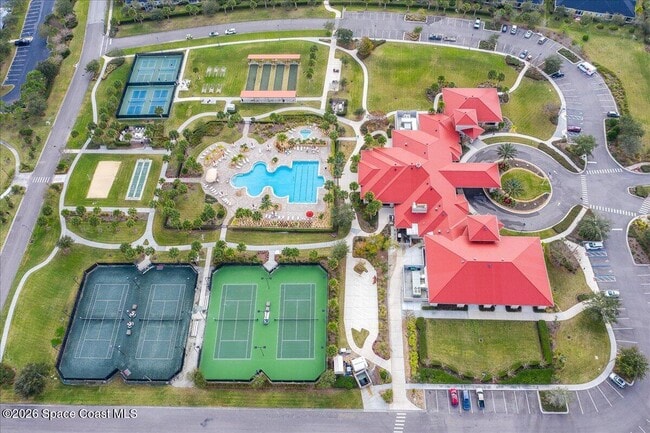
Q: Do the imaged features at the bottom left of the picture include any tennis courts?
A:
Yes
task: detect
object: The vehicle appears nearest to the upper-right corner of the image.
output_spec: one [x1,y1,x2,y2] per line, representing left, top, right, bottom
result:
[576,62,596,74]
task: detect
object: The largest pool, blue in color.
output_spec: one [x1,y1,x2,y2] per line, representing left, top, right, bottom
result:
[229,160,326,203]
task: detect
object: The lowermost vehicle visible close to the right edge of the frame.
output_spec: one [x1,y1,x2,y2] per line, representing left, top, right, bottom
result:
[607,373,627,389]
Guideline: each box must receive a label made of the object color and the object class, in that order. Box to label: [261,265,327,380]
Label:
green tennis court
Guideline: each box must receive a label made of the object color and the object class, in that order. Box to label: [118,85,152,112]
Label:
blue sports court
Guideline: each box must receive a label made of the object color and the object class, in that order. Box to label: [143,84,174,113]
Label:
blue sports court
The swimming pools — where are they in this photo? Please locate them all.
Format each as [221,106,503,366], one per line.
[299,129,313,138]
[229,160,326,203]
